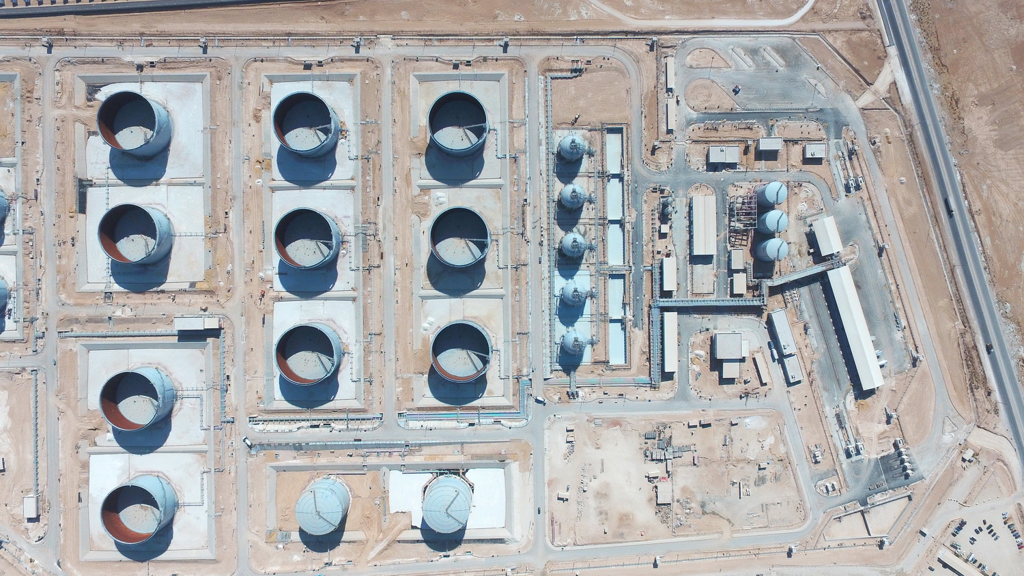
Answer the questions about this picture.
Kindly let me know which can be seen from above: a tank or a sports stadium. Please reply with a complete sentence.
Visible in the photo is a tank.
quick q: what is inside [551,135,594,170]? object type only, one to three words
storage tank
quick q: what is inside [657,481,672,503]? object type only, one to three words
shed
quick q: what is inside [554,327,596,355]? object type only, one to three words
storage tank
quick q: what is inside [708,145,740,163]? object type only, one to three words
building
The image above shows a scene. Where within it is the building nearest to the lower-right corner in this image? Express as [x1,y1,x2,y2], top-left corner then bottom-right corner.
[937,548,988,576]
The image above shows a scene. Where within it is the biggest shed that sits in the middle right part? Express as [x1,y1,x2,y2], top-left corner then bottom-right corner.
[822,265,884,390]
